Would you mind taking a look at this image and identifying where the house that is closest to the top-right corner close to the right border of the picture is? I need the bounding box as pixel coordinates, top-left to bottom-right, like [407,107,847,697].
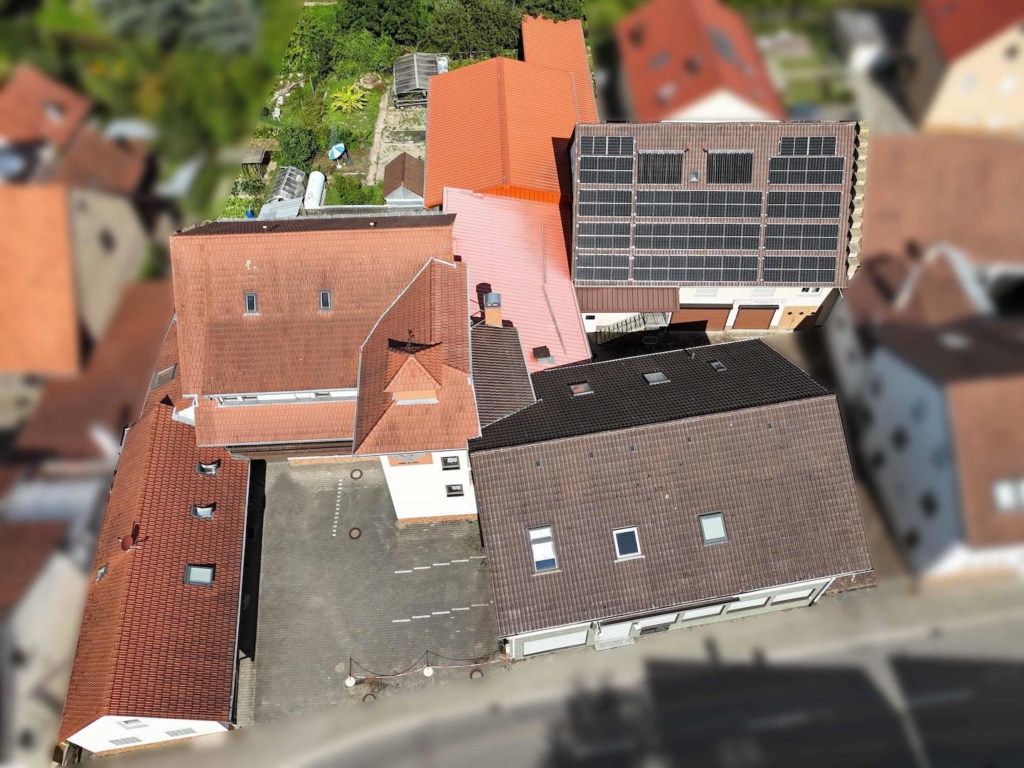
[894,0,1024,106]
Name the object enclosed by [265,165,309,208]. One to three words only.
greenhouse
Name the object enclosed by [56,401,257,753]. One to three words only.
house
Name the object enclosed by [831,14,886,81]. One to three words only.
building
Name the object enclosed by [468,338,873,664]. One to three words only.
house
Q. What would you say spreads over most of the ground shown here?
buildings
